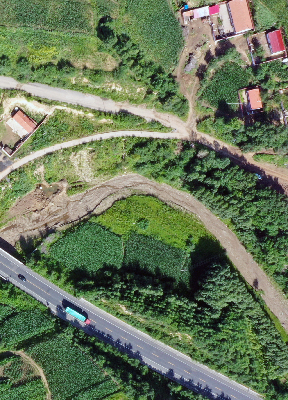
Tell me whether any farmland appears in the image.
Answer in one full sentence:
Yes, there's farmland in this view.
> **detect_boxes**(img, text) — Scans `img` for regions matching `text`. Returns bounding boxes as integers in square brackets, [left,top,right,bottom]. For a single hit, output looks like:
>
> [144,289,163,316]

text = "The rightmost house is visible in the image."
[264,31,285,56]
